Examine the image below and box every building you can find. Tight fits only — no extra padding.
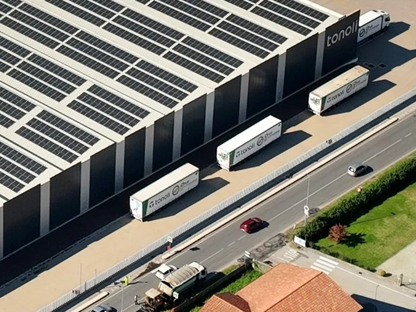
[202,267,367,312]
[0,0,360,266]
